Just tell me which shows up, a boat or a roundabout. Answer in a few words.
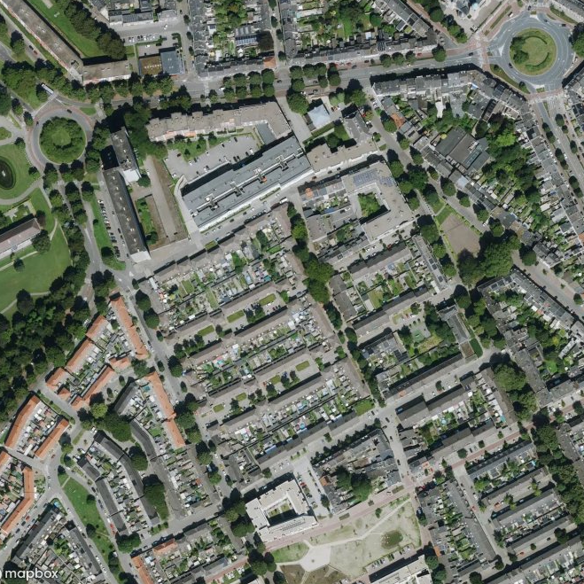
roundabout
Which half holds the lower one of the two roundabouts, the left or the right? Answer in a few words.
left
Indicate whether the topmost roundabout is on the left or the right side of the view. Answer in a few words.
right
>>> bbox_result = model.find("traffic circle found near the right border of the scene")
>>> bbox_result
[496,14,572,90]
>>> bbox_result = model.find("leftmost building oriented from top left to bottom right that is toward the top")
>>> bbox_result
[0,0,83,73]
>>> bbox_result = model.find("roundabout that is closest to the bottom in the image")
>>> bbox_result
[25,102,101,177]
